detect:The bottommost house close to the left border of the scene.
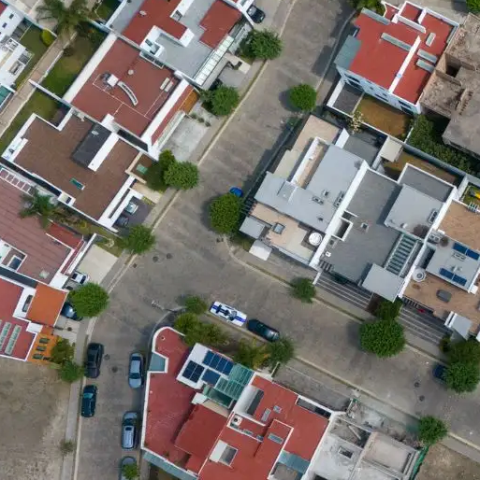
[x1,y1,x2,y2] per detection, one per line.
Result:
[0,274,75,362]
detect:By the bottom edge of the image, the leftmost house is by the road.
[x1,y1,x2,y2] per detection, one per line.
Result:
[140,327,265,480]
